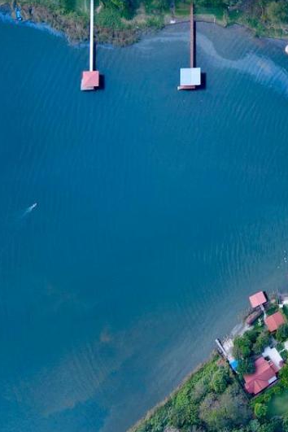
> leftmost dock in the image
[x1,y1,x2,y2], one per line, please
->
[81,0,101,90]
